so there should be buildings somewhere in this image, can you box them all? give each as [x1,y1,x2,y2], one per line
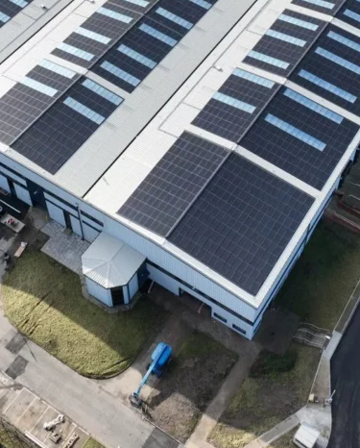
[0,0,360,341]
[289,409,325,448]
